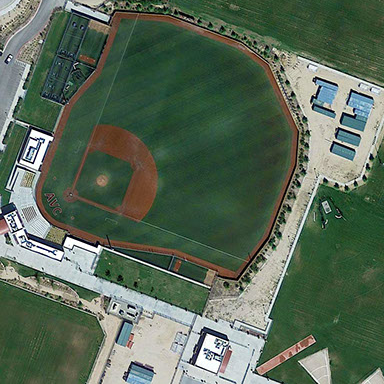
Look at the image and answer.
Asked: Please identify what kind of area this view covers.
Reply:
sports ground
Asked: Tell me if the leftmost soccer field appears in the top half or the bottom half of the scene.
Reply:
bottom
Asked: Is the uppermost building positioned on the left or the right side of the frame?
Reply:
left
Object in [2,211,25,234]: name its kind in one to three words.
building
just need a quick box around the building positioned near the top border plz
[64,0,109,23]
